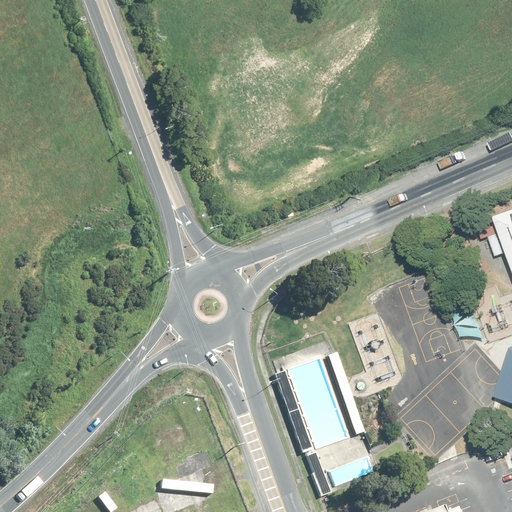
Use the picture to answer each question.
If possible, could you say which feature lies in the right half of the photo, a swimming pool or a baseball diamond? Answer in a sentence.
What appears in the right half of the photo is a swimming pool.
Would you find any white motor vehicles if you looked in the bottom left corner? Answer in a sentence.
Yes, I can see a white motor vehicle in the bottom left corner.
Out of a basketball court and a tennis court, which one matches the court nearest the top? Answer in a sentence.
Looking closely, the court nearest the top is a basketball court.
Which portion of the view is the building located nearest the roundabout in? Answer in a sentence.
You can find the building located nearest the roundabout in the bottom area of the picture.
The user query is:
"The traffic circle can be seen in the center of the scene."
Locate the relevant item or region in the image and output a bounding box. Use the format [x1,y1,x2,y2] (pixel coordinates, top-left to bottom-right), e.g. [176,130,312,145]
[193,288,228,324]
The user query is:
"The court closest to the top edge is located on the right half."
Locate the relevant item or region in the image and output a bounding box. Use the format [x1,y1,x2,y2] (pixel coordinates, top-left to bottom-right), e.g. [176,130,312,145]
[398,275,461,362]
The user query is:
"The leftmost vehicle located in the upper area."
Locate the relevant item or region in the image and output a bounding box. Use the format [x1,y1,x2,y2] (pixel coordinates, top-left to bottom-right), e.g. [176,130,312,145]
[387,192,408,206]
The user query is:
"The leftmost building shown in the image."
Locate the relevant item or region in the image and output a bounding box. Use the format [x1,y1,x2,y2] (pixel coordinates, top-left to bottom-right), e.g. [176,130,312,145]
[276,371,312,454]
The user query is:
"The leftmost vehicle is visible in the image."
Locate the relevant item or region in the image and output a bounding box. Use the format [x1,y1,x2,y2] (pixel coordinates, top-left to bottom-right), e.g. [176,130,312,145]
[16,477,44,502]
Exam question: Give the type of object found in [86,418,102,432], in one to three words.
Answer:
car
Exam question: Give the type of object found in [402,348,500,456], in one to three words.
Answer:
sports court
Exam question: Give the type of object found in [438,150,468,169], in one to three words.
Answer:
vehicle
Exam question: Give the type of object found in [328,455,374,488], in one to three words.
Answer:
swimming pool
